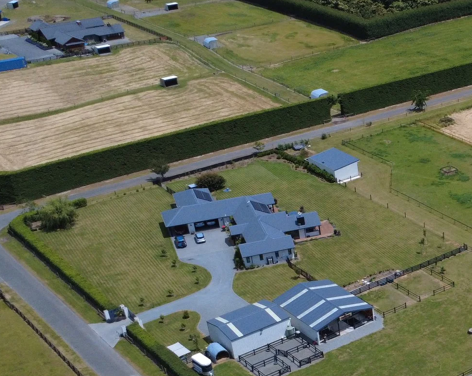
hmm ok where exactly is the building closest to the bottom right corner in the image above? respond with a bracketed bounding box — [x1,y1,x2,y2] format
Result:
[273,279,374,345]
